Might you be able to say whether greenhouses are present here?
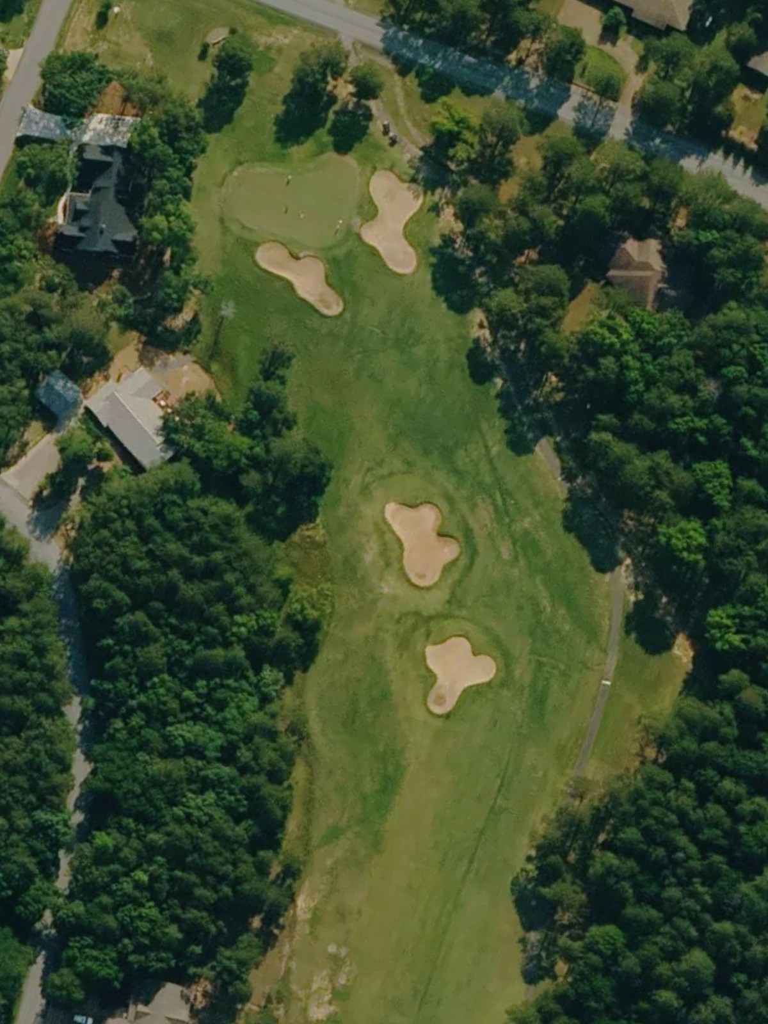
No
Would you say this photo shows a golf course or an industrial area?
golf course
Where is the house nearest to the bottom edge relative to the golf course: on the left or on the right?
to the left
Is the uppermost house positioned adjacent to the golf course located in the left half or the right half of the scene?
left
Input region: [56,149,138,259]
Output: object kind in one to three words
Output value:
house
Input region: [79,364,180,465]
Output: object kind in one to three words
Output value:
house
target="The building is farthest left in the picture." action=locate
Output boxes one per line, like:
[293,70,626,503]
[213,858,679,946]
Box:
[38,373,81,418]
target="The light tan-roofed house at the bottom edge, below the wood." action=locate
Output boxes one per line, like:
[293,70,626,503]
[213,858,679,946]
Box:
[100,977,197,1024]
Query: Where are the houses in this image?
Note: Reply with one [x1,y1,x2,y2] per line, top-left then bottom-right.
[745,44,768,78]
[605,239,661,315]
[79,364,180,465]
[608,0,698,35]
[56,149,138,259]
[100,977,197,1024]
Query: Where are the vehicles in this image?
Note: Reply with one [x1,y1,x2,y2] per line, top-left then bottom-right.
[389,132,397,142]
[383,120,389,130]
[72,1016,93,1024]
